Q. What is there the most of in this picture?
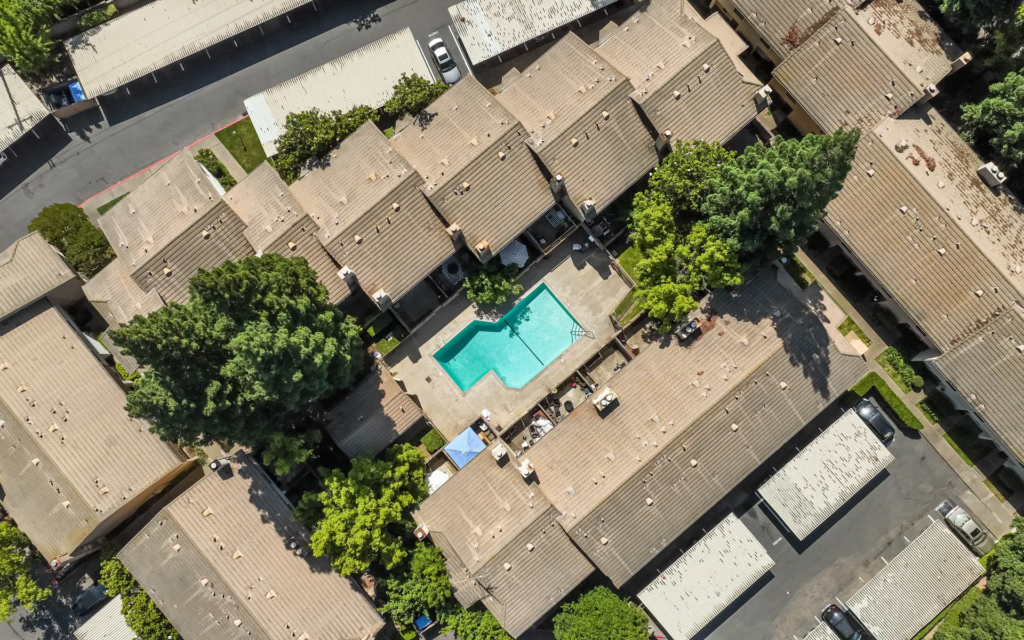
buildings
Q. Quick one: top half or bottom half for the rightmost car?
bottom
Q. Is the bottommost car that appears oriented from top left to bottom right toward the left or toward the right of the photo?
right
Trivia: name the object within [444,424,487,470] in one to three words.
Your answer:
tent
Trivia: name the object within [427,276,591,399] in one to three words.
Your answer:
swimming pool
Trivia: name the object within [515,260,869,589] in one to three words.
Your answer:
building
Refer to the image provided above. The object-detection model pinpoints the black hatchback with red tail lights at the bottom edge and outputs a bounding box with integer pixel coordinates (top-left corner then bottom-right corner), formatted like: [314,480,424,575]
[822,602,863,640]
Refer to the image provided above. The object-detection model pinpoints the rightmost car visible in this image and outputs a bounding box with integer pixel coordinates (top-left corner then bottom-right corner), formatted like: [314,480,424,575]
[945,505,990,557]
